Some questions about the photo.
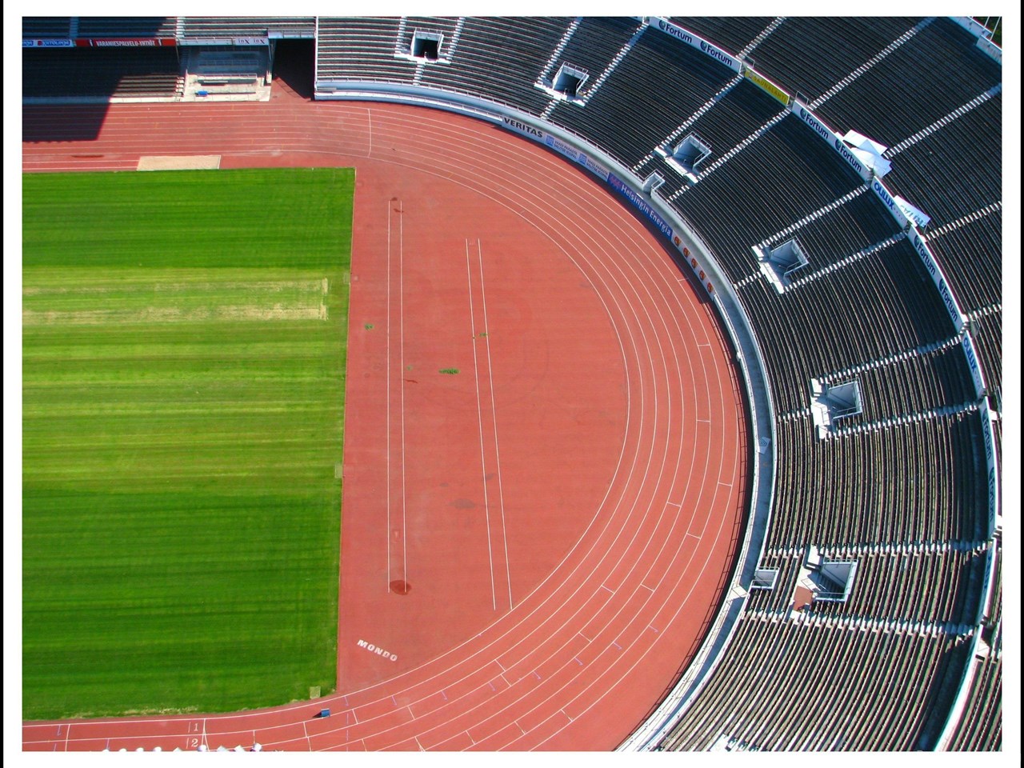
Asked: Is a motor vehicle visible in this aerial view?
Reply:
No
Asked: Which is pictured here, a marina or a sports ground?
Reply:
sports ground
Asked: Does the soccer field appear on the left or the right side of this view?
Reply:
left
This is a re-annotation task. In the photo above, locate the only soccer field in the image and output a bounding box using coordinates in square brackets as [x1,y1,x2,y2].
[0,168,356,724]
